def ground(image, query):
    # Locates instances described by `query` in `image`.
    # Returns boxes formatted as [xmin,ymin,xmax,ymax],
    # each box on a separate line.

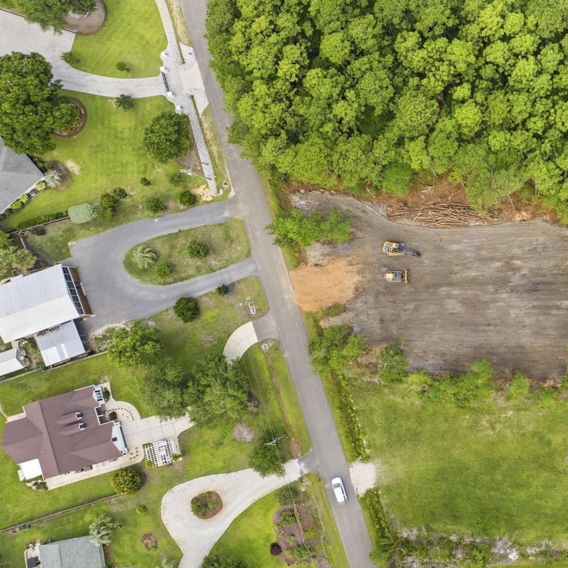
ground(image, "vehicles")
[330,475,347,505]
[388,269,409,285]
[385,241,421,257]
